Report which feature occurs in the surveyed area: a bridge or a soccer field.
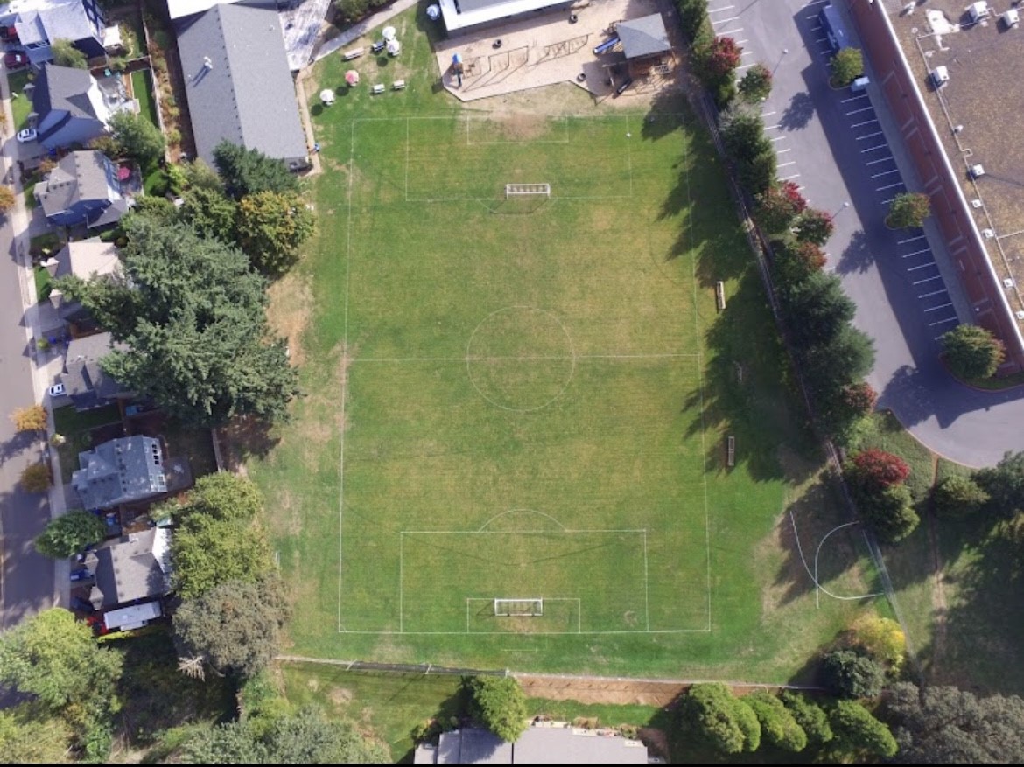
soccer field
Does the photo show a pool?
No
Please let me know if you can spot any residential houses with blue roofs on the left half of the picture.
Yes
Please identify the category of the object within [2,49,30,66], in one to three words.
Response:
car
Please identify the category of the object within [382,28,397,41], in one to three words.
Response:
umbrella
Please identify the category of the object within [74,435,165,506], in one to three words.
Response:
house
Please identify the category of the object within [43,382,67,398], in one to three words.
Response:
car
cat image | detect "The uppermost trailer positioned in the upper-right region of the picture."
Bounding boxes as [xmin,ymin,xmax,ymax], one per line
[824,1,854,44]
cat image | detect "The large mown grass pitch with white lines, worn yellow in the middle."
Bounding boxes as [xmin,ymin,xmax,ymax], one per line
[335,111,714,636]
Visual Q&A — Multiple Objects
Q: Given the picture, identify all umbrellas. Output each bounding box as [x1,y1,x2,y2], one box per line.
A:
[426,6,441,23]
[321,89,335,104]
[387,39,401,54]
[382,28,397,41]
[346,71,360,87]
